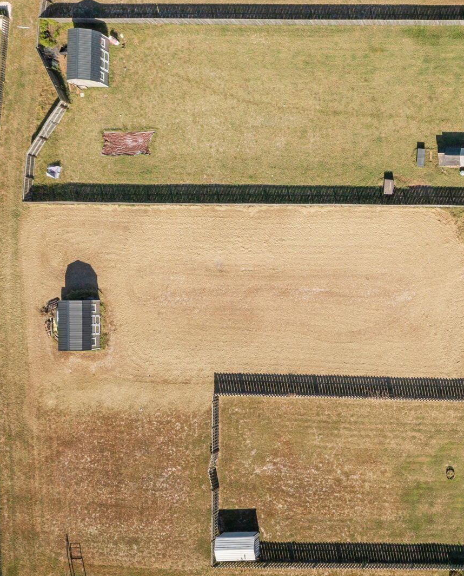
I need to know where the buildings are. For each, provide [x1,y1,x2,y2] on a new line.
[57,300,100,352]
[66,31,109,92]
[213,533,261,567]
[438,146,464,167]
